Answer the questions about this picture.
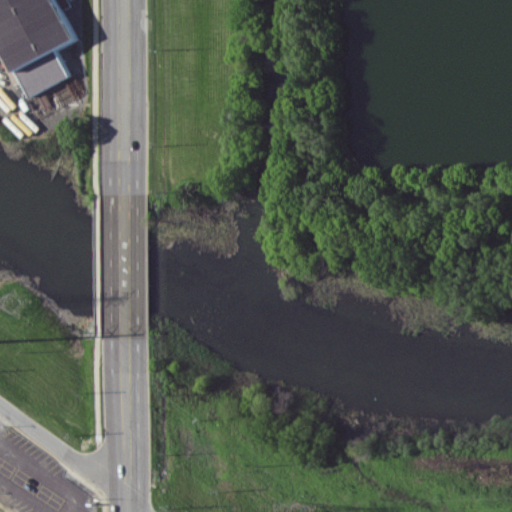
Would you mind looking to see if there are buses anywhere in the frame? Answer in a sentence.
No, no bus can be seen from above.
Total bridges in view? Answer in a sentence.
Only 1 bridge is visible.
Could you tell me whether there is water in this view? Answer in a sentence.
Yes, there is water in the image.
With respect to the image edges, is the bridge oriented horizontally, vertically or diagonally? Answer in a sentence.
In this picture, the bridge is oriented vertically.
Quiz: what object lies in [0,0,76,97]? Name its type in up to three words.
building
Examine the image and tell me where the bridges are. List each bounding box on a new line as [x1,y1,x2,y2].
[92,193,148,338]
